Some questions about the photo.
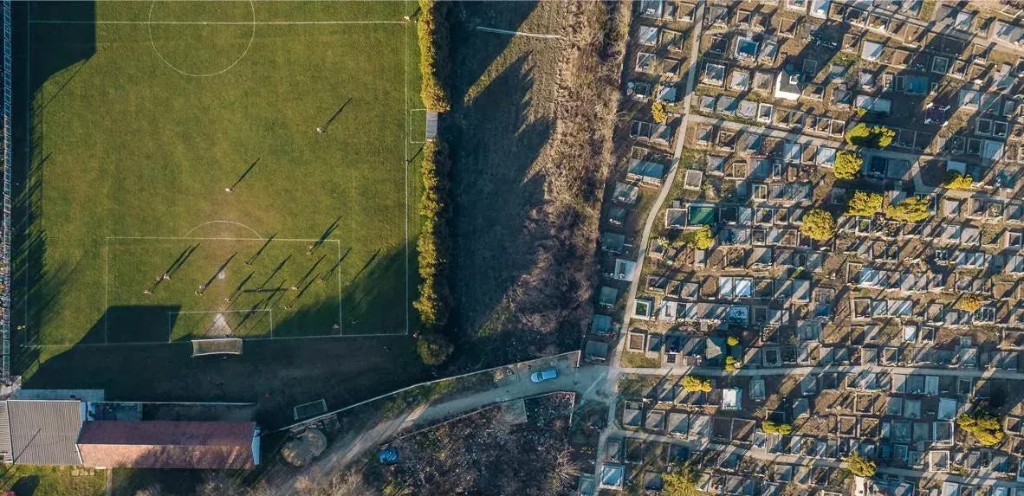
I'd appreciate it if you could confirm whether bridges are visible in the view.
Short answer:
No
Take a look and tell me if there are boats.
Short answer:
No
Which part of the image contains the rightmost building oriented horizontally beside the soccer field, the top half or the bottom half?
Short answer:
bottom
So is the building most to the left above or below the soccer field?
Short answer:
below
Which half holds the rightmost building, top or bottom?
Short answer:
top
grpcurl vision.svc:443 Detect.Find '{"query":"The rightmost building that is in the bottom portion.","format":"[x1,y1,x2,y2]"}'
[74,421,262,469]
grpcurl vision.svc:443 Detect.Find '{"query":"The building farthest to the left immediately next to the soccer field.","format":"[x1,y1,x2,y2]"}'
[0,400,97,465]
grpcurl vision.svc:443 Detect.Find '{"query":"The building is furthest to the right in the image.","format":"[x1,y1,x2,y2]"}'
[776,64,809,99]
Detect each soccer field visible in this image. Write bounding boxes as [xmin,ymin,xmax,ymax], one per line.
[11,0,424,386]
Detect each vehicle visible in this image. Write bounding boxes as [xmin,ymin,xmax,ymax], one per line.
[531,368,558,383]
